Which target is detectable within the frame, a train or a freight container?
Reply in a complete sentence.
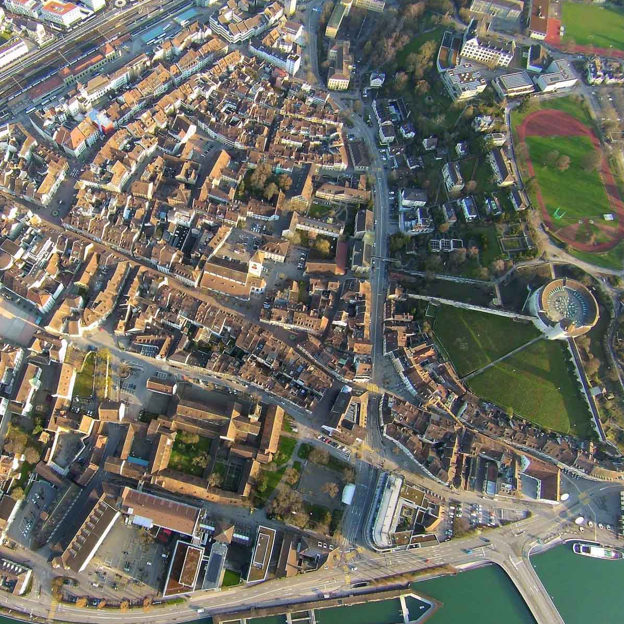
Looking from above, you can make out a train.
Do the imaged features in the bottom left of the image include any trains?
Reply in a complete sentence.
No, there is no train in the bottom left of the image.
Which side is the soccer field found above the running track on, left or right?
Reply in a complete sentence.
It is on the right.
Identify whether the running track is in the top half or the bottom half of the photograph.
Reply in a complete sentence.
The running track is in the top half of the image.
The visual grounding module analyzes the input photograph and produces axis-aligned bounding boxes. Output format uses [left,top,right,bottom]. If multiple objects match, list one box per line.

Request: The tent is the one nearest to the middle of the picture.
[338,484,355,507]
